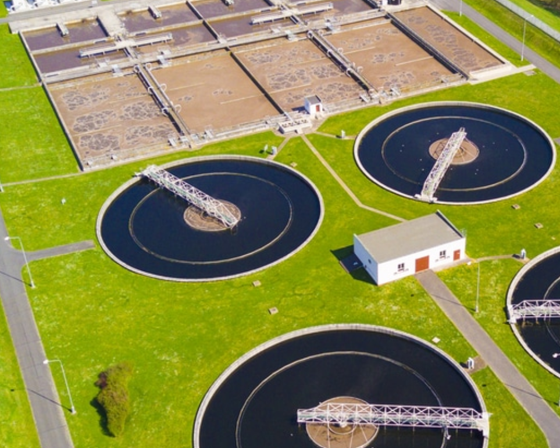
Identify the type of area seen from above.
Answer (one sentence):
This looks like an industrial area.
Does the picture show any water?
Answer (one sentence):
Yes, water can be seen from above here.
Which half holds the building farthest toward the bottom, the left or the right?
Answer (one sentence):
It is on the right.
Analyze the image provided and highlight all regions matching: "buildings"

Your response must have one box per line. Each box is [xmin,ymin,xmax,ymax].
[303,92,324,120]
[352,204,466,284]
